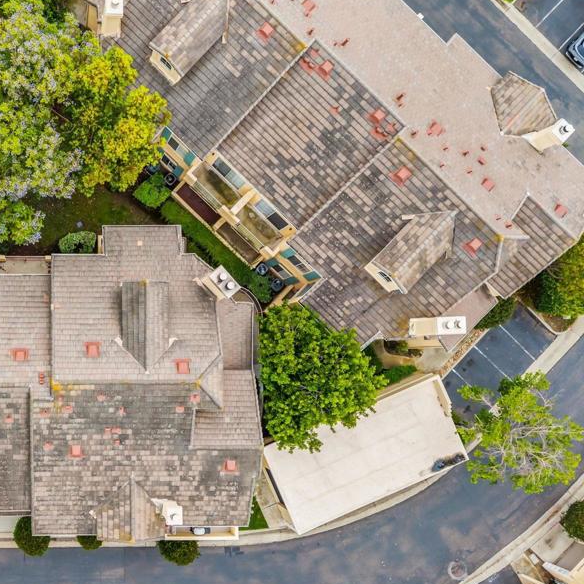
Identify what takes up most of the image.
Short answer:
buildings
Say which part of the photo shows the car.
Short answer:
top right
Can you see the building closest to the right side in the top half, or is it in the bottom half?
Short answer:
bottom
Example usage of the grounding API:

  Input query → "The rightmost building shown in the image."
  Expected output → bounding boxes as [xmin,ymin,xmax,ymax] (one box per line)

[536,536,584,584]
